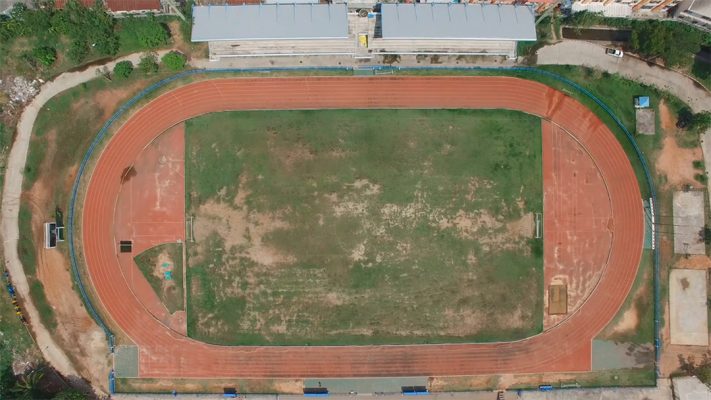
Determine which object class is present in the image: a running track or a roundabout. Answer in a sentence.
There is a running track in the scene.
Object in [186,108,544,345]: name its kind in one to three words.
sports field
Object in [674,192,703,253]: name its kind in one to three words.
sports court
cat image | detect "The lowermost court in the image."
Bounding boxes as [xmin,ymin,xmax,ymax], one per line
[669,269,707,345]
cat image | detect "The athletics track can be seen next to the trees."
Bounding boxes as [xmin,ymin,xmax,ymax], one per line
[81,76,644,380]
